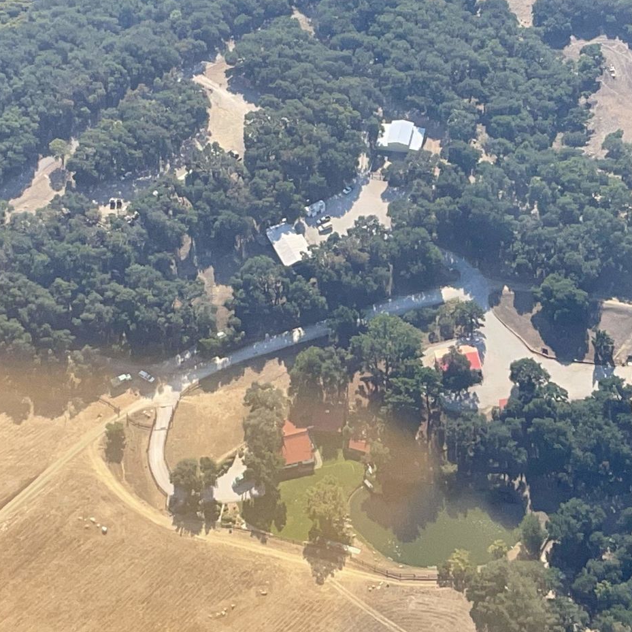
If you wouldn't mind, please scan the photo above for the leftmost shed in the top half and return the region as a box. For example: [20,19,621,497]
[257,219,317,265]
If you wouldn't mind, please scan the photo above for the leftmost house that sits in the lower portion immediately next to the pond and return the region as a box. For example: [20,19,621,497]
[277,403,351,482]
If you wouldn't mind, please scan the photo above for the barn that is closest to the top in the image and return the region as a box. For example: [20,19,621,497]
[372,114,431,155]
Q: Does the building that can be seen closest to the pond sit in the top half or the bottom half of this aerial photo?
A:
bottom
